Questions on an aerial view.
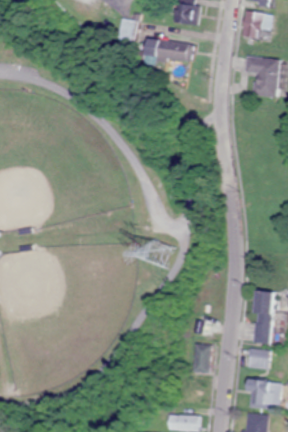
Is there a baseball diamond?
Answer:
Yes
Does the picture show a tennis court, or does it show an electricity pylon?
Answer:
electricity pylon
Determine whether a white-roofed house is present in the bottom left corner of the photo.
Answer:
No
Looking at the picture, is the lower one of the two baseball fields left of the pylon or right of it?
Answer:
on the left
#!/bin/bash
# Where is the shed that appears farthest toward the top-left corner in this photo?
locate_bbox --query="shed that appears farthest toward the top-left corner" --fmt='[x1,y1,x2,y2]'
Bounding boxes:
[120,20,139,41]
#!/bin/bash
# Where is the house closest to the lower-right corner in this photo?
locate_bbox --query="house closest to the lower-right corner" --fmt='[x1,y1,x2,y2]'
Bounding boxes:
[248,414,272,432]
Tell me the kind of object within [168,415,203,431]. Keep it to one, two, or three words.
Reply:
house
